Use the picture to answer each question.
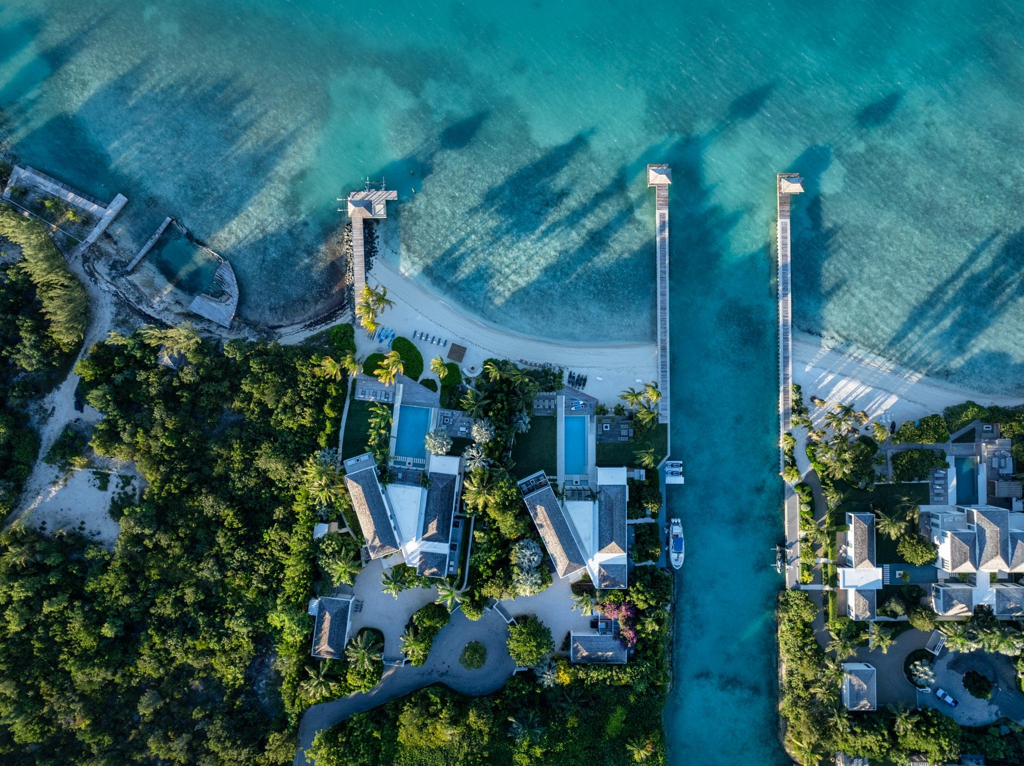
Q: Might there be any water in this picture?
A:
Yes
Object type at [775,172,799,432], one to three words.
pier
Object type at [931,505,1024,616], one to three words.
house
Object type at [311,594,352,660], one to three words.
building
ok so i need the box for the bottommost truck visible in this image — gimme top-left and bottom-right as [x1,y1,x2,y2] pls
[933,686,961,712]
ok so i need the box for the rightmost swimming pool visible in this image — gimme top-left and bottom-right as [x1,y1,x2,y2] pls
[946,456,987,505]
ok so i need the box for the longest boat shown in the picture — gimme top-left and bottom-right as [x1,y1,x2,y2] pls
[670,520,684,570]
